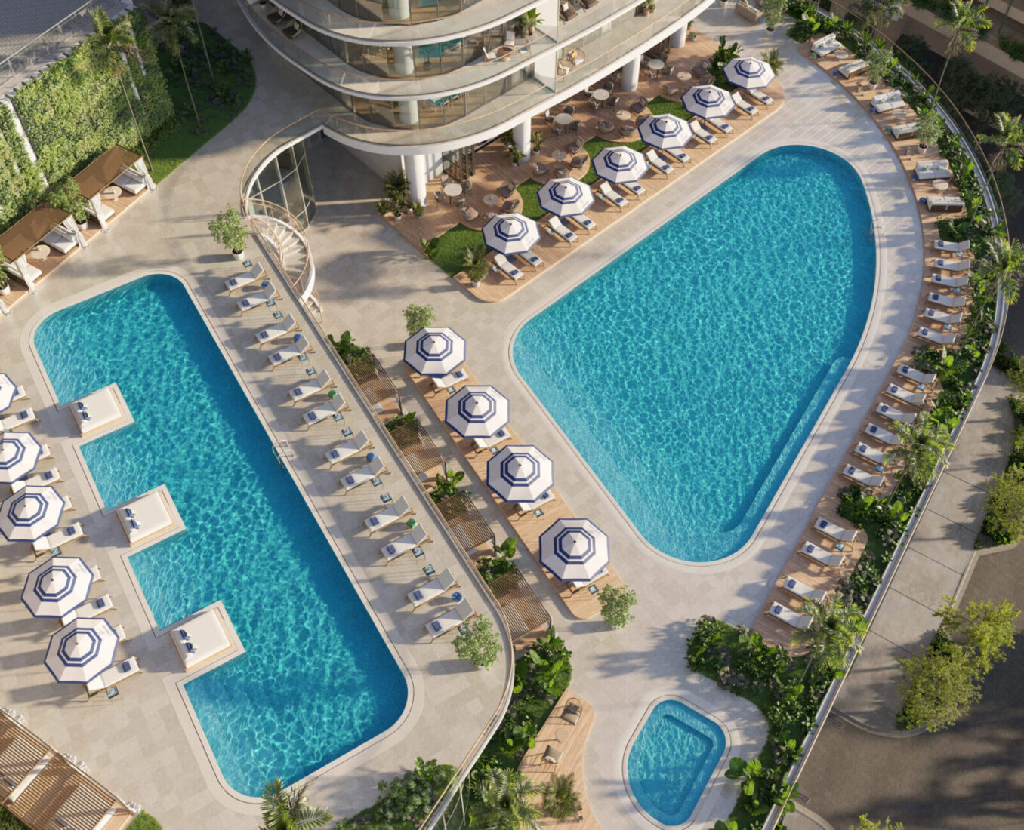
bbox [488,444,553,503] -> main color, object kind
white umbrella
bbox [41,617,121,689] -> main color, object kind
white umbrella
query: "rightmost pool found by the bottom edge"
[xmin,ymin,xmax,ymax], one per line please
[628,701,726,826]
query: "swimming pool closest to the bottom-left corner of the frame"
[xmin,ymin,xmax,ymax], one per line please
[35,275,408,797]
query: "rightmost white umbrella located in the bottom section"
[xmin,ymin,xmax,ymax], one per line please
[540,518,609,580]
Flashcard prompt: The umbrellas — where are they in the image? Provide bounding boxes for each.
[0,482,69,545]
[681,82,735,131]
[488,444,553,503]
[540,518,609,580]
[636,111,691,162]
[405,325,466,382]
[19,555,97,625]
[444,384,507,441]
[482,211,539,267]
[0,430,46,492]
[536,175,594,229]
[592,144,647,194]
[723,54,776,98]
[41,617,121,689]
